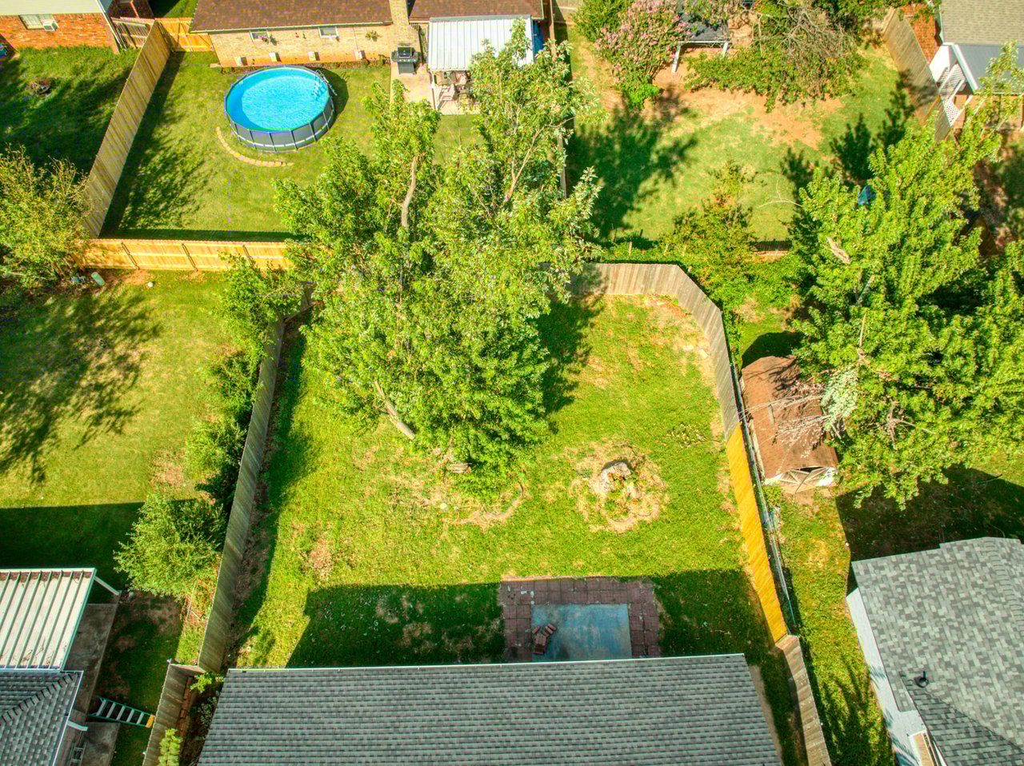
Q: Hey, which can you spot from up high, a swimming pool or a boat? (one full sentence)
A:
The one in the frame is a swimming pool.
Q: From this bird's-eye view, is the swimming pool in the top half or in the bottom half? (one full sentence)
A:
It is in the top half that the swimming pool appears.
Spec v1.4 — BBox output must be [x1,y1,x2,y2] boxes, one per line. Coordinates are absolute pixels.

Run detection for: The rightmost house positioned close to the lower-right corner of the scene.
[849,532,1024,766]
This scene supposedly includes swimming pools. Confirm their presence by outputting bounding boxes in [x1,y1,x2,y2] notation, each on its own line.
[225,68,339,155]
